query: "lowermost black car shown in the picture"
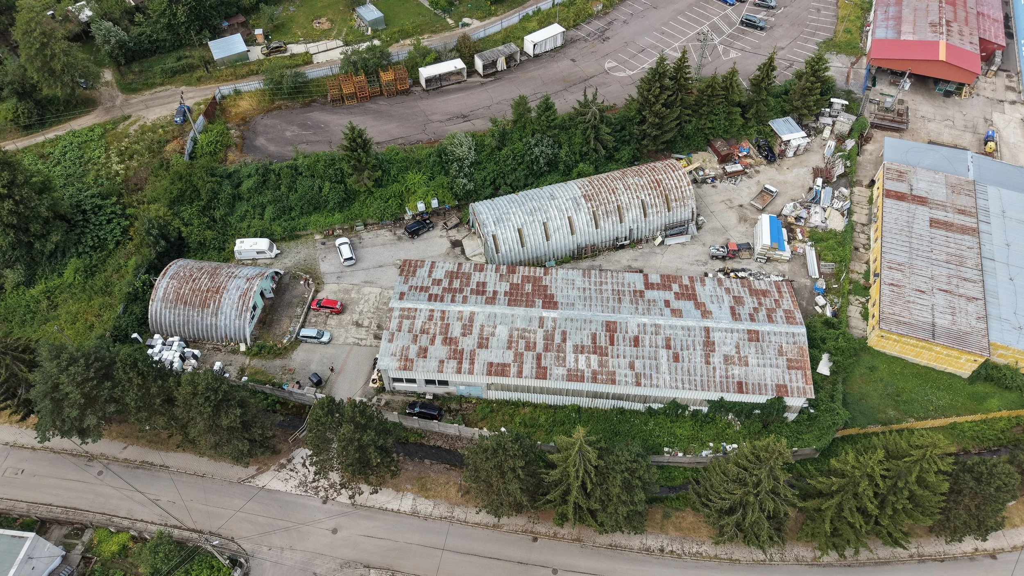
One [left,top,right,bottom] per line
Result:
[407,404,445,423]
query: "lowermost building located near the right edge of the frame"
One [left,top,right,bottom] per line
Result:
[868,136,1024,382]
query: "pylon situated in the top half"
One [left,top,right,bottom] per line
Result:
[690,21,718,86]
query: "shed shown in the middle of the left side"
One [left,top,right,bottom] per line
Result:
[148,256,282,346]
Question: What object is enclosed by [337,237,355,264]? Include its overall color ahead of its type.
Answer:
white car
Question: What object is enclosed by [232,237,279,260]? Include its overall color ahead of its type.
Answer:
white camper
